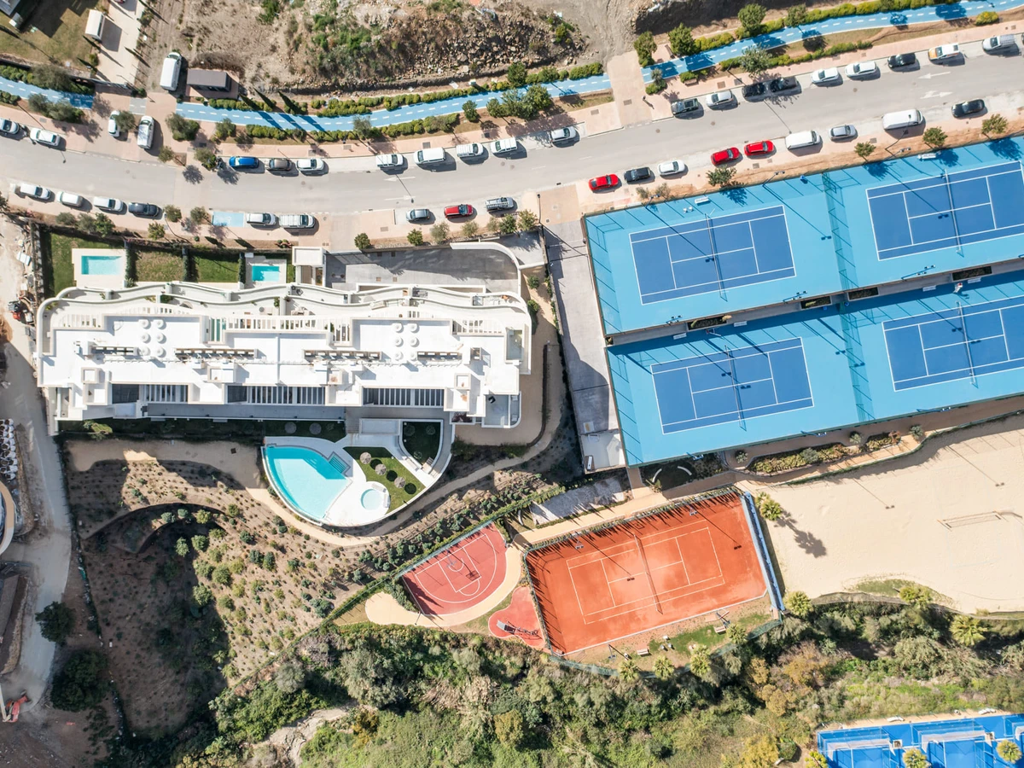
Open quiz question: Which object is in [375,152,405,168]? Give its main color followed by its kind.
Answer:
white vehicle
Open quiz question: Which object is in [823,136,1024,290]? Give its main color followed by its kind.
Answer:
blue tennis court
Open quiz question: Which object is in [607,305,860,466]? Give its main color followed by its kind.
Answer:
blue tennis court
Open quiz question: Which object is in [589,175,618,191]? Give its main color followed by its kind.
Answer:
red car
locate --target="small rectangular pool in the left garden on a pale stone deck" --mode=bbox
[72,248,126,290]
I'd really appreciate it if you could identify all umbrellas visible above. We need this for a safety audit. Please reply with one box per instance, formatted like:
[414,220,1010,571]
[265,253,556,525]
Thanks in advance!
[360,452,372,464]
[285,422,297,433]
[394,477,406,488]
[375,463,387,475]
[310,423,321,434]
